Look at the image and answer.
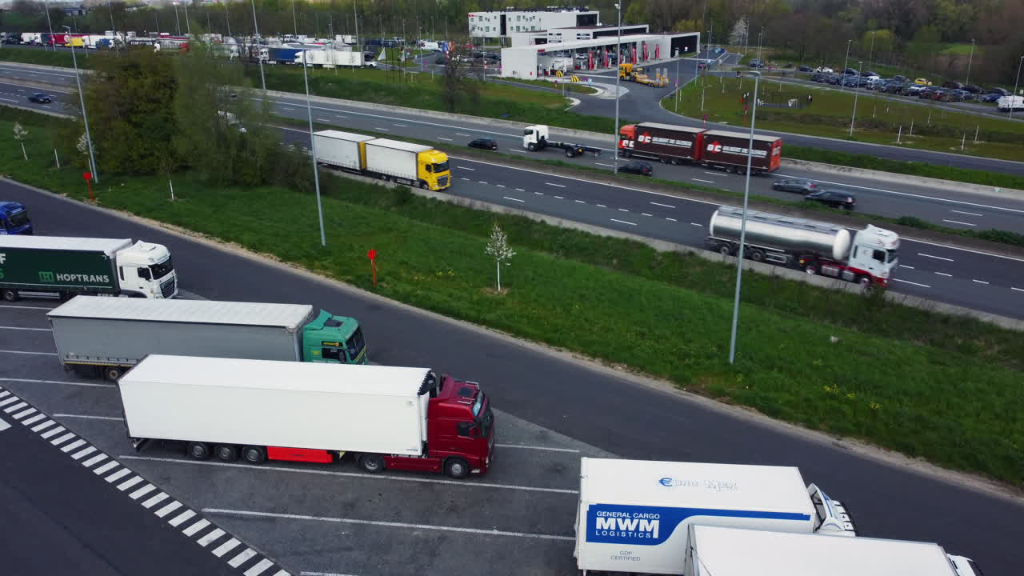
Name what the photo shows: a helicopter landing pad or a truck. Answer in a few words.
truck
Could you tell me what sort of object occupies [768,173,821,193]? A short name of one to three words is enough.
car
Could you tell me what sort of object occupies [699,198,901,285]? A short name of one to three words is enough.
truck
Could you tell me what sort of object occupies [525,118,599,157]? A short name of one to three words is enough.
truck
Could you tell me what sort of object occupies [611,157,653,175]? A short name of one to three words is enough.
car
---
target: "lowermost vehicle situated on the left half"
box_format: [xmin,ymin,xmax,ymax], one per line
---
[116,354,494,476]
